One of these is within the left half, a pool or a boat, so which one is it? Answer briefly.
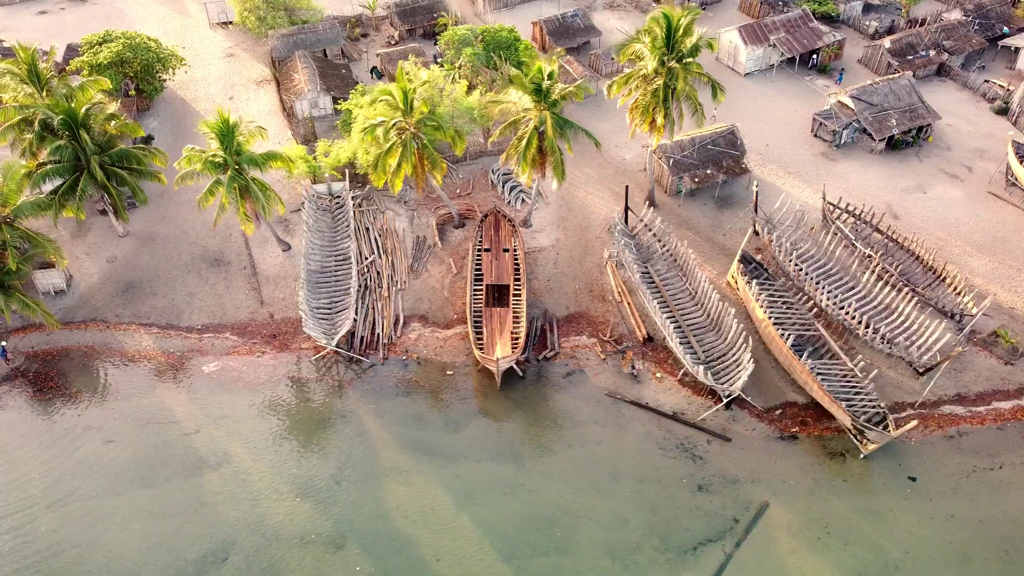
boat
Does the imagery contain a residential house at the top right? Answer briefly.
Yes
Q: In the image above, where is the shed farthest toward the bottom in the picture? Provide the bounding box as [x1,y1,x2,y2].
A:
[646,130,773,202]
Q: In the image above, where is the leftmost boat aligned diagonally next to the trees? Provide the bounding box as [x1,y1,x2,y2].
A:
[621,185,758,403]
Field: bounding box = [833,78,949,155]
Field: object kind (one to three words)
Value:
house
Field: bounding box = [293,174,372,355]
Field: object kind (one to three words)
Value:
boat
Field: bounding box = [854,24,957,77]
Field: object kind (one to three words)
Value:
shed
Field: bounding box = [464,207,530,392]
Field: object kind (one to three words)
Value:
boat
